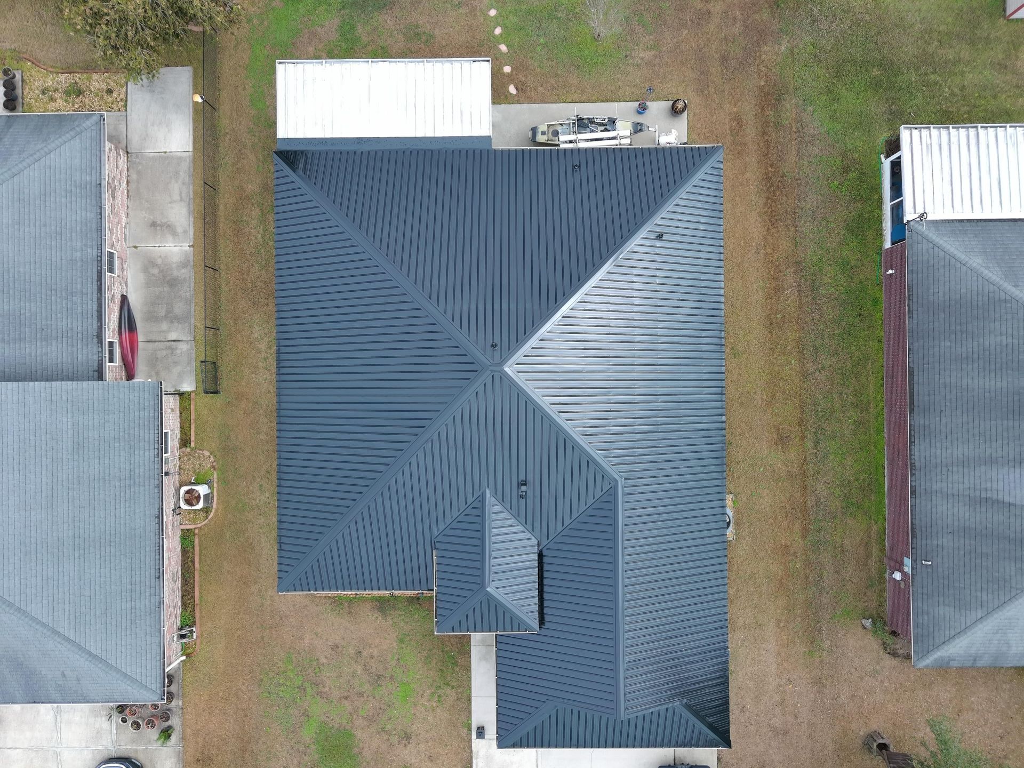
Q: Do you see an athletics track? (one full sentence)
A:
No, there is no athletics track in the image.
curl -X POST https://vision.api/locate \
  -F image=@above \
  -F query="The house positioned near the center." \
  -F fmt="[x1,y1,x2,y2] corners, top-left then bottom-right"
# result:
[273,136,733,751]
